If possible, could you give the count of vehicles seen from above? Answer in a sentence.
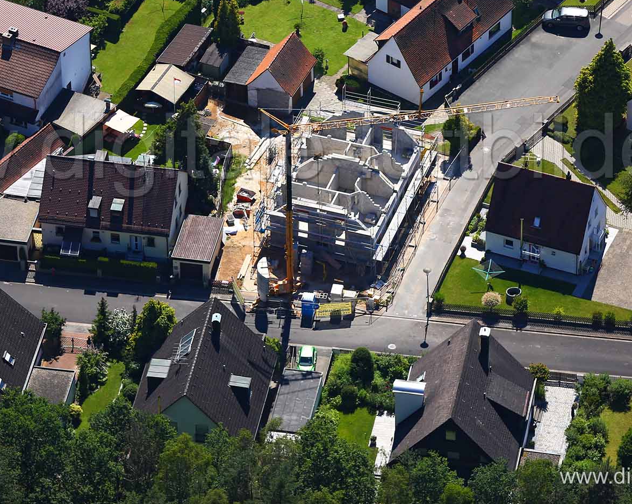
The photo contains 2 vehicles.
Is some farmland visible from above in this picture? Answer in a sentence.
No, there is no farmland in the image.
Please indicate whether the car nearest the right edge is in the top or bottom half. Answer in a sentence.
The car nearest the right edge sits in the top half of the picture.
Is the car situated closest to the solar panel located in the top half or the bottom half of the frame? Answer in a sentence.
The car situated closest to the solar panel sits in the bottom half of the picture.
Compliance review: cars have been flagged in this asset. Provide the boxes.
[541,9,591,32]
[292,338,320,370]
